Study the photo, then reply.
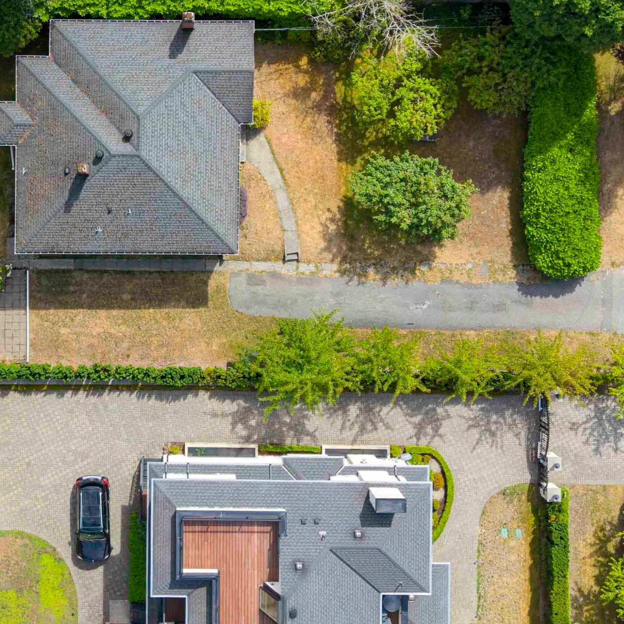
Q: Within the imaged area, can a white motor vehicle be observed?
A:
No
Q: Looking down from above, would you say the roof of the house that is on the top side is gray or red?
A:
gray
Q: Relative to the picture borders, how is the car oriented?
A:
up and down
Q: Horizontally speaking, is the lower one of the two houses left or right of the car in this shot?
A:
on the right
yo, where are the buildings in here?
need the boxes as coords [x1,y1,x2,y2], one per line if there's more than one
[0,9,258,257]
[140,443,454,624]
